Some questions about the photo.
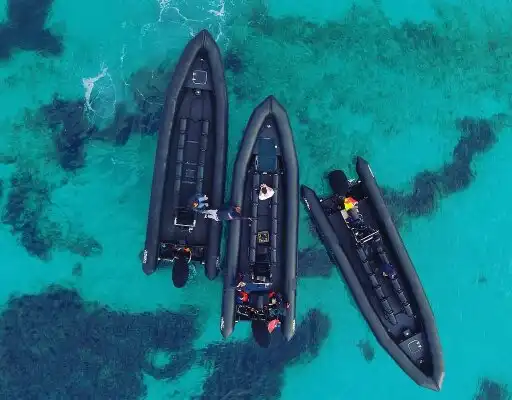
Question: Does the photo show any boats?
Yes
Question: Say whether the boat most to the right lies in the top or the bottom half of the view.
bottom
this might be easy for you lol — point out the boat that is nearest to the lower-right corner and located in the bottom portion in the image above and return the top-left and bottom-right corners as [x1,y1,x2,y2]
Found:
[303,159,448,392]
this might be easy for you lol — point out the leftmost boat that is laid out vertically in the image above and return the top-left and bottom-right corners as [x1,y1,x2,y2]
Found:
[142,28,232,286]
